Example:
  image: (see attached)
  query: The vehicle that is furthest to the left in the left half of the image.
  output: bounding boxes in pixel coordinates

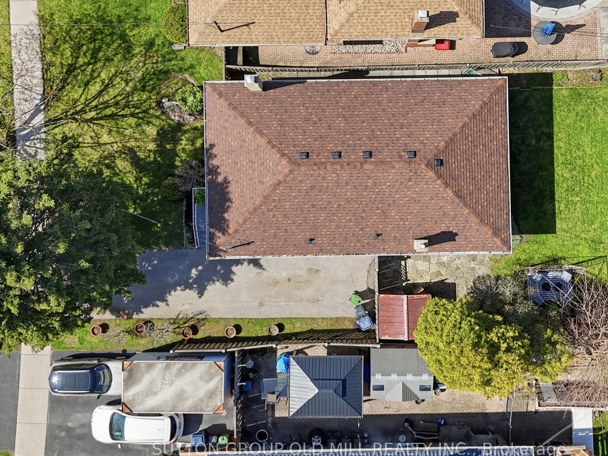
[48,355,132,399]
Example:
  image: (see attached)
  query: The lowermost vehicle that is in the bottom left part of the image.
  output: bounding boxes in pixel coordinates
[94,398,186,445]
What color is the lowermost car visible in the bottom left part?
white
